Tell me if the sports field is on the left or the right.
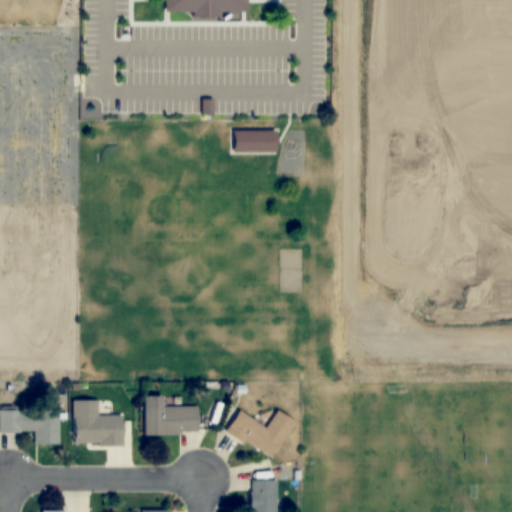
right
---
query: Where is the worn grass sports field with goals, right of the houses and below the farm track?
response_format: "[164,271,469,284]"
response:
[302,382,512,512]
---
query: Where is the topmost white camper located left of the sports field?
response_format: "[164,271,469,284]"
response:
[210,401,226,426]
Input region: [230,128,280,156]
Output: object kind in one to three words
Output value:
building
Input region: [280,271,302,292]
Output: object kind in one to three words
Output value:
sports court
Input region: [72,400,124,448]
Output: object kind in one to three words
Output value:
house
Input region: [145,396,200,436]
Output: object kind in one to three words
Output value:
house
